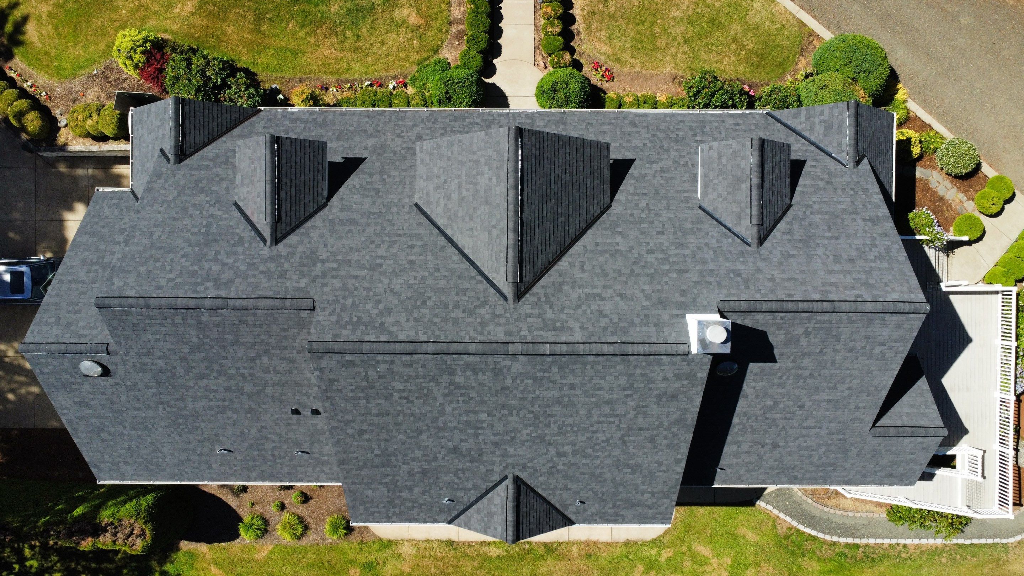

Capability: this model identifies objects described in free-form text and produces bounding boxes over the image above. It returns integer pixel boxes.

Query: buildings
[16,93,951,545]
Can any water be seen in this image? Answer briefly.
No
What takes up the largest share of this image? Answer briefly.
buildings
